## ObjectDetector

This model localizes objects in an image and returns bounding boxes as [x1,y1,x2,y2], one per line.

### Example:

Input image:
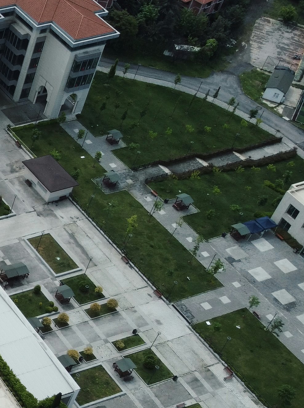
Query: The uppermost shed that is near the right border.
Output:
[263,60,299,103]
